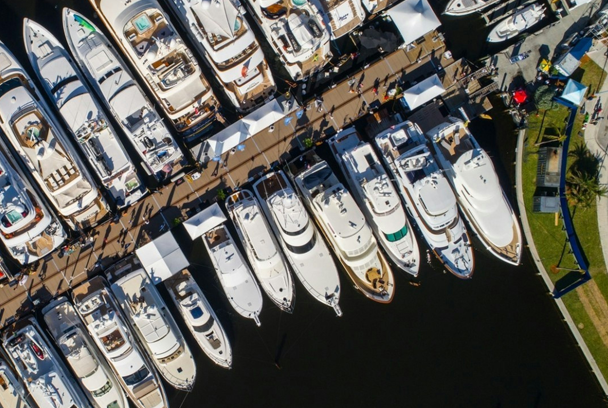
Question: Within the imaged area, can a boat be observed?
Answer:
Yes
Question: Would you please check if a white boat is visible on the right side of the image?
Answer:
Yes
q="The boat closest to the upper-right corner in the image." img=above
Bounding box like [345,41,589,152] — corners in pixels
[484,0,556,43]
